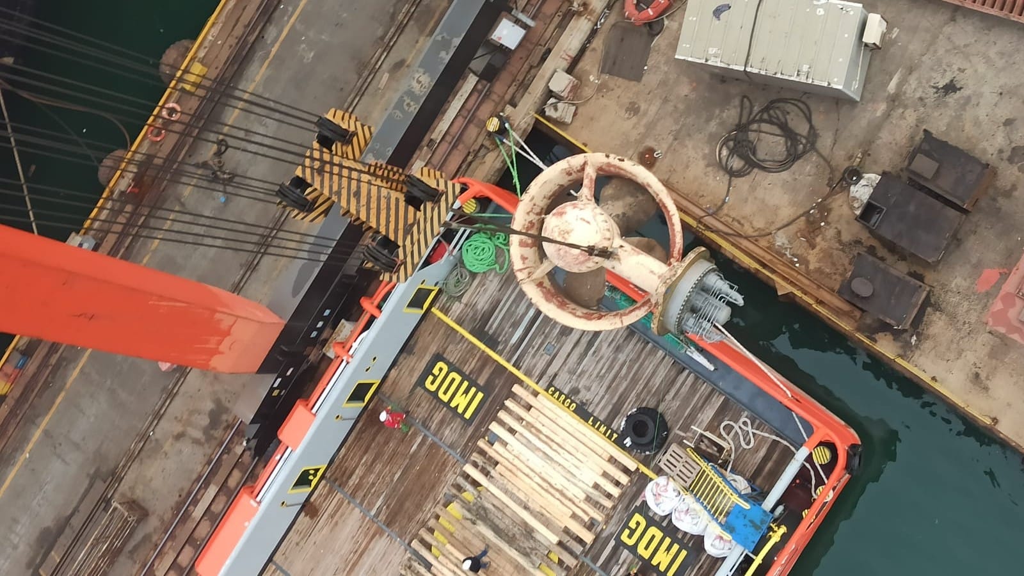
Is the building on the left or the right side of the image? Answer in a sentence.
The building sits on the right side.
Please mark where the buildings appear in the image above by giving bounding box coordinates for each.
[674,0,884,102]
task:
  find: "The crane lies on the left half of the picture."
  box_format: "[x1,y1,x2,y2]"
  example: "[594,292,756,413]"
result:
[0,0,515,458]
